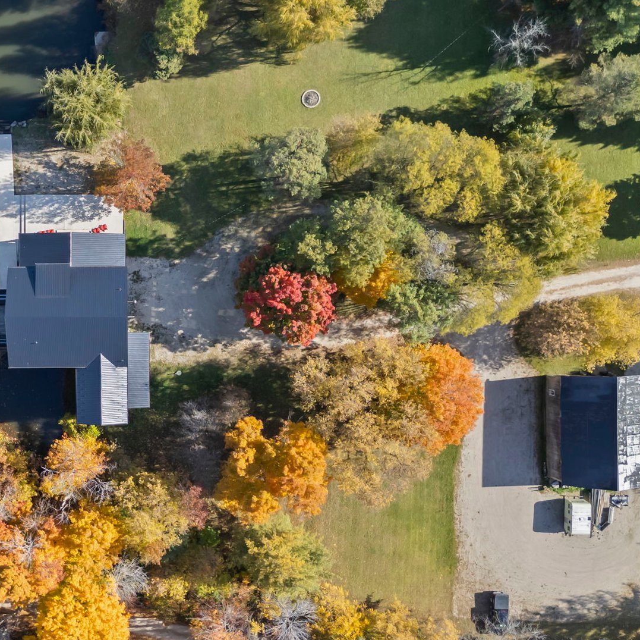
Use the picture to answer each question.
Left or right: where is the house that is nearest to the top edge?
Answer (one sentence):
It is on the left.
